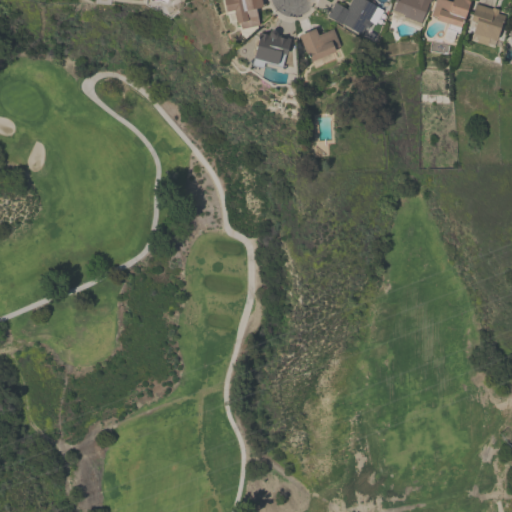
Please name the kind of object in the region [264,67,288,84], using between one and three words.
swimming pool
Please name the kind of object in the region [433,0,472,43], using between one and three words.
house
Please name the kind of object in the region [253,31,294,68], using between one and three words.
house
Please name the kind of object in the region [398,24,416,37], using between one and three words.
swimming pool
